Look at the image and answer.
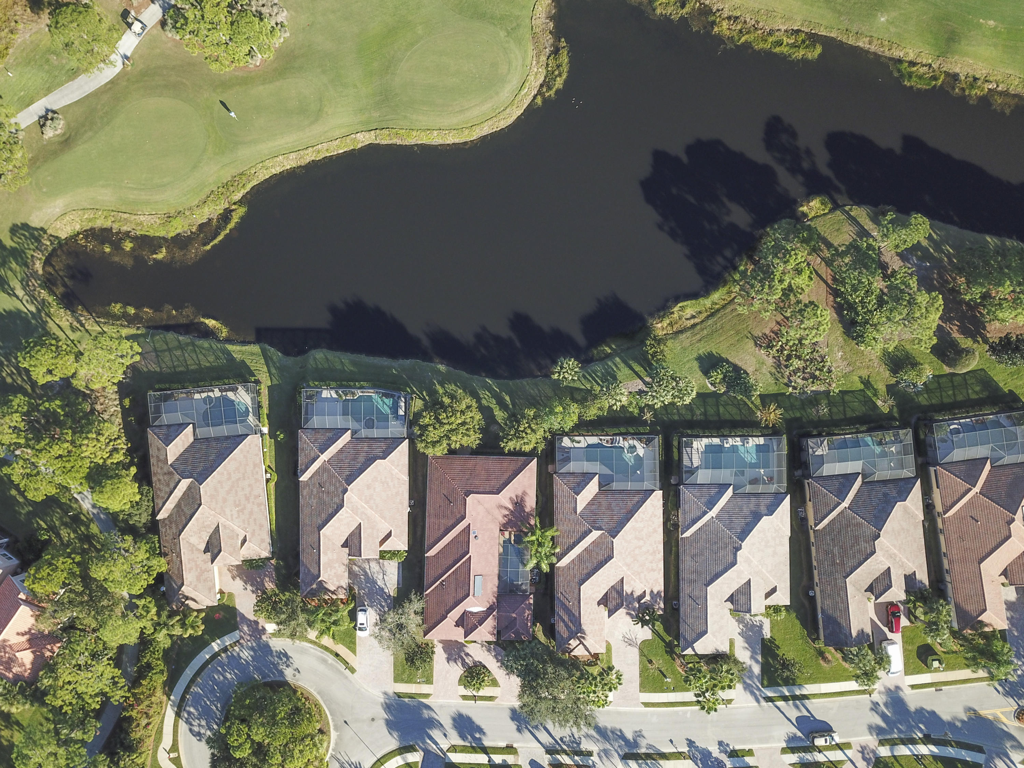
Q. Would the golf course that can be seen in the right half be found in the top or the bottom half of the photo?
top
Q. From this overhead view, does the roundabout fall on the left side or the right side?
left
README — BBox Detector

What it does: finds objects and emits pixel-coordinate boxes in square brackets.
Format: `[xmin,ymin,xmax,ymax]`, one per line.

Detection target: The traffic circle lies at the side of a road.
[217,676,336,768]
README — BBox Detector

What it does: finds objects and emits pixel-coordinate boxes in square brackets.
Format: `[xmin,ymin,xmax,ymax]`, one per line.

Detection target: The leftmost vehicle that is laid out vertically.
[355,608,369,638]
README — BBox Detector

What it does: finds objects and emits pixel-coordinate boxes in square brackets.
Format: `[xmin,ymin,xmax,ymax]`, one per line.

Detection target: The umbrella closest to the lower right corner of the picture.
[813,440,833,460]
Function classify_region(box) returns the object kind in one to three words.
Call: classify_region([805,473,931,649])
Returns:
house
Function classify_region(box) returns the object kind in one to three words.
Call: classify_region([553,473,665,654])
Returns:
house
